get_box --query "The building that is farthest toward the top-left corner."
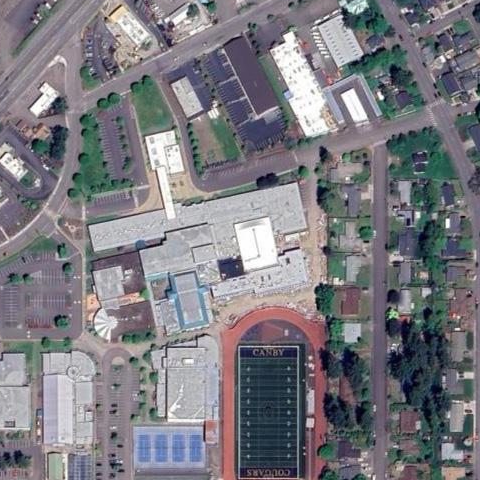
[30,81,59,116]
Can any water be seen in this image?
No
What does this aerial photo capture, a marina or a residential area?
residential area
